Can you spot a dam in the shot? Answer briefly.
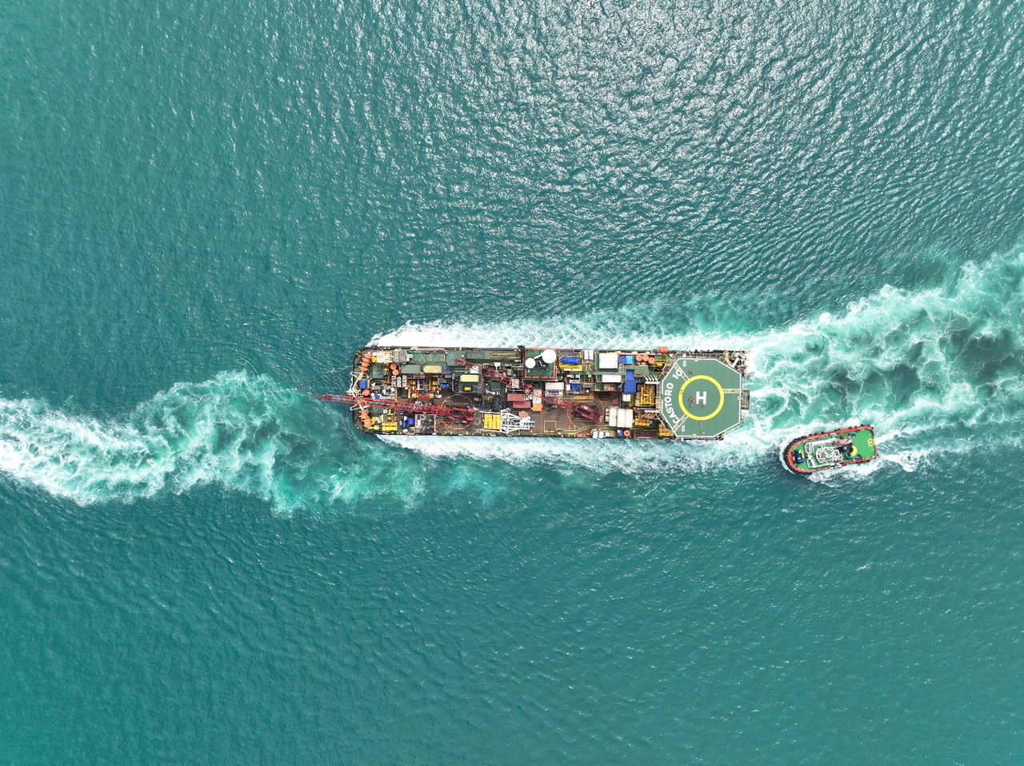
No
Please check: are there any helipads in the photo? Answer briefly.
Yes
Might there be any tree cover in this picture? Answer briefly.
No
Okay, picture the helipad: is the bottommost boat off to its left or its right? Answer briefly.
to the right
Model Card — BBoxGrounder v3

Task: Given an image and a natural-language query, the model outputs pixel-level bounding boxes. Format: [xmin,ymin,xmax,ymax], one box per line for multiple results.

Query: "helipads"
[658,355,744,441]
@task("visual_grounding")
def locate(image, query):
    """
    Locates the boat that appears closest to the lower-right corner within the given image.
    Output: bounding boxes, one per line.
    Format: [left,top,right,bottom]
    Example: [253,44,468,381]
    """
[780,426,878,470]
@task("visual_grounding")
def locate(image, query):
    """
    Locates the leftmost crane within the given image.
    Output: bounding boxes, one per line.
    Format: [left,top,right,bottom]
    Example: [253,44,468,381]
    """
[313,394,474,423]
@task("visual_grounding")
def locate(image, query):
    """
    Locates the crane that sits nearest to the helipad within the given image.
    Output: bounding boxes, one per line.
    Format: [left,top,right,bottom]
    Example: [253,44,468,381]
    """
[455,357,606,427]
